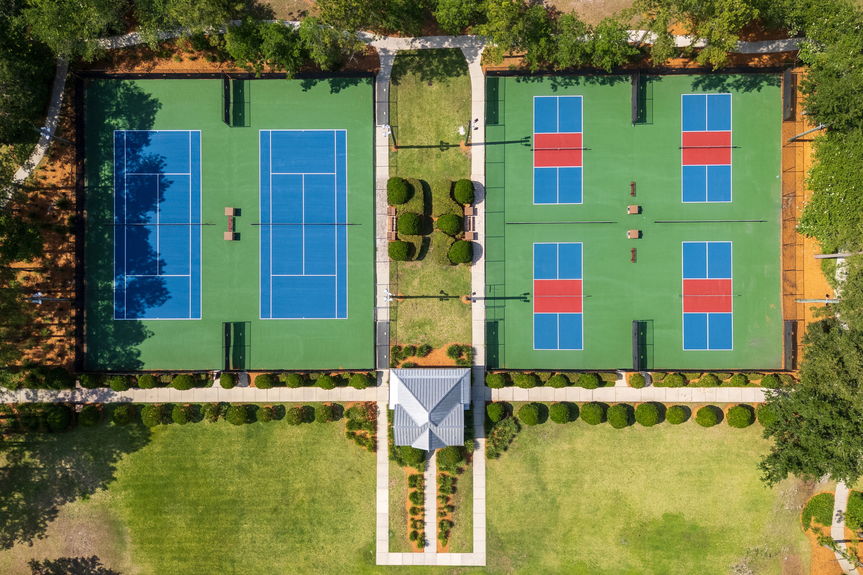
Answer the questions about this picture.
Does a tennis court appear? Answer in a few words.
Yes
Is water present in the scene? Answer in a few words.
No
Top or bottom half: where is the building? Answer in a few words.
bottom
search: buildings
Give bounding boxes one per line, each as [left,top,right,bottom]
[388,368,470,451]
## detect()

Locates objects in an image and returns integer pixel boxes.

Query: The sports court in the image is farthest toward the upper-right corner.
[682,94,732,202]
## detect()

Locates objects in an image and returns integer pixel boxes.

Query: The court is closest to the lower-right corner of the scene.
[683,241,733,351]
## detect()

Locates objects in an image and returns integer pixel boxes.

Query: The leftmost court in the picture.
[113,130,201,320]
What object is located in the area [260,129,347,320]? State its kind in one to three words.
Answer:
tennis court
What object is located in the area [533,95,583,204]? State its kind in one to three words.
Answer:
sports court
